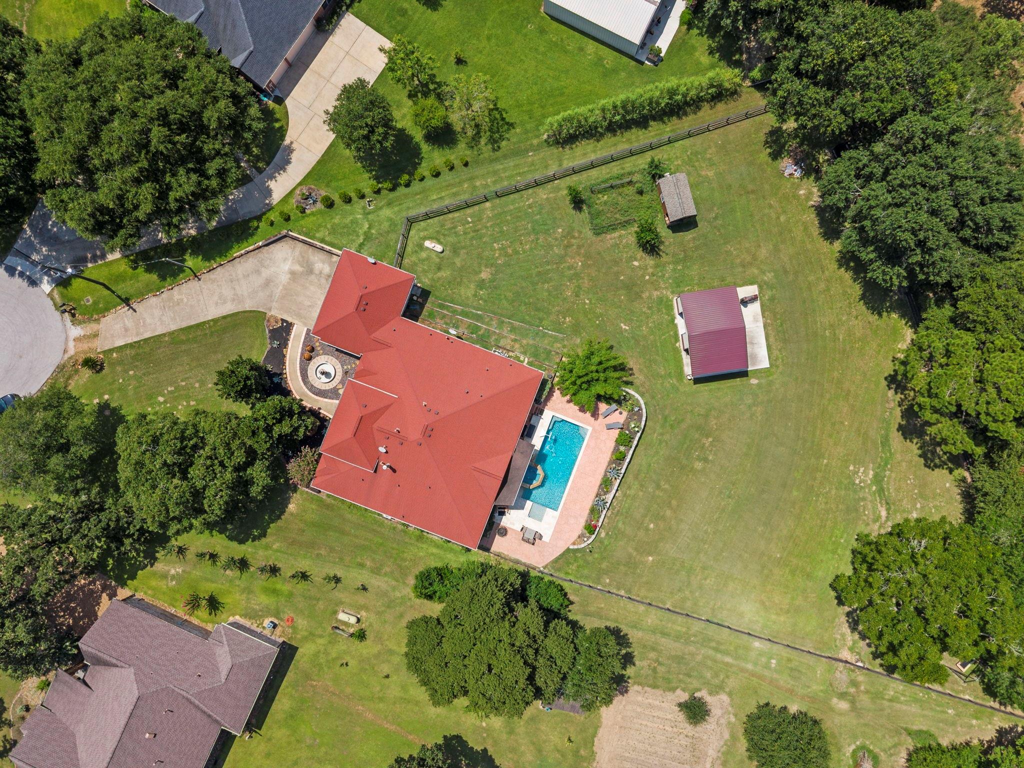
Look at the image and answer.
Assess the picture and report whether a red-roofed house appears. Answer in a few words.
Yes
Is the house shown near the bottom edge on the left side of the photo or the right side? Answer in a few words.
left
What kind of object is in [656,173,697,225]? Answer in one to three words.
shed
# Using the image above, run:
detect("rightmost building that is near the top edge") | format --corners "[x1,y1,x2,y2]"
[546,0,661,57]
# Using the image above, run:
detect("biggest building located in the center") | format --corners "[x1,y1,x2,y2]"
[310,248,545,551]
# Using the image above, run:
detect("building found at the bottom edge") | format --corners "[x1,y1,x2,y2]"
[5,597,282,768]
